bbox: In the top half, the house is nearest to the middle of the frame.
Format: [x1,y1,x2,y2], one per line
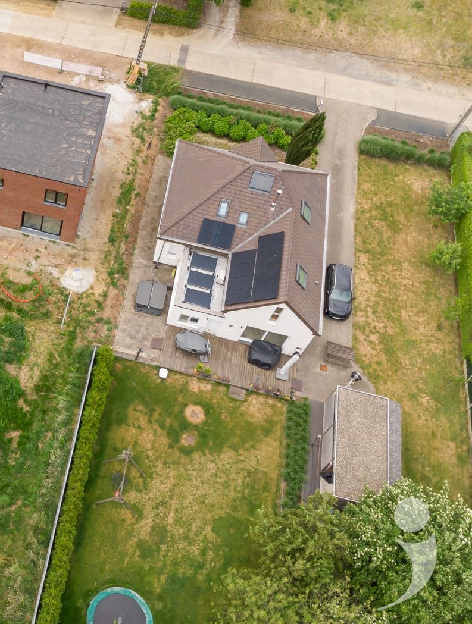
[154,132,327,355]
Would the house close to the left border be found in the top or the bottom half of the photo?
top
